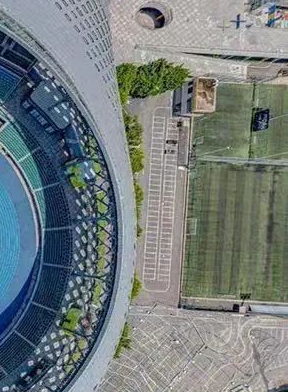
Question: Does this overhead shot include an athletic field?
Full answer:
Yes, the photo shows an athletic field.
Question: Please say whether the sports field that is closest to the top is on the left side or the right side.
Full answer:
The sports field that is closest to the top is on the right side of the image.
